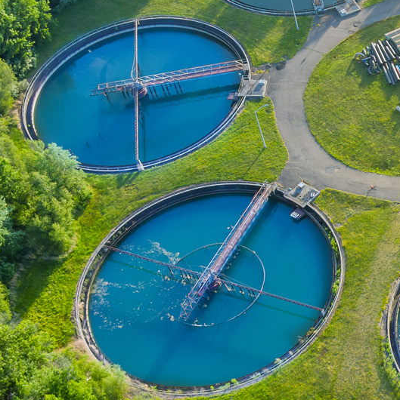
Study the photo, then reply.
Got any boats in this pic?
No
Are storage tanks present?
Yes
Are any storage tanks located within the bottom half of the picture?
Yes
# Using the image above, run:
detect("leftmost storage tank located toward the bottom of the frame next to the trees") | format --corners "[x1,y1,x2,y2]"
[73,179,345,396]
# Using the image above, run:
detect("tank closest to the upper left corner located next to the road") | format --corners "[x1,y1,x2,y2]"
[18,13,253,172]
